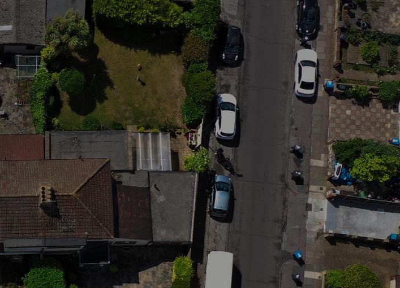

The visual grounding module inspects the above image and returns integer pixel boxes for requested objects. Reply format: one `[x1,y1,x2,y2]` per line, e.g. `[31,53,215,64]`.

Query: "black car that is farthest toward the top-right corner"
[295,0,323,41]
